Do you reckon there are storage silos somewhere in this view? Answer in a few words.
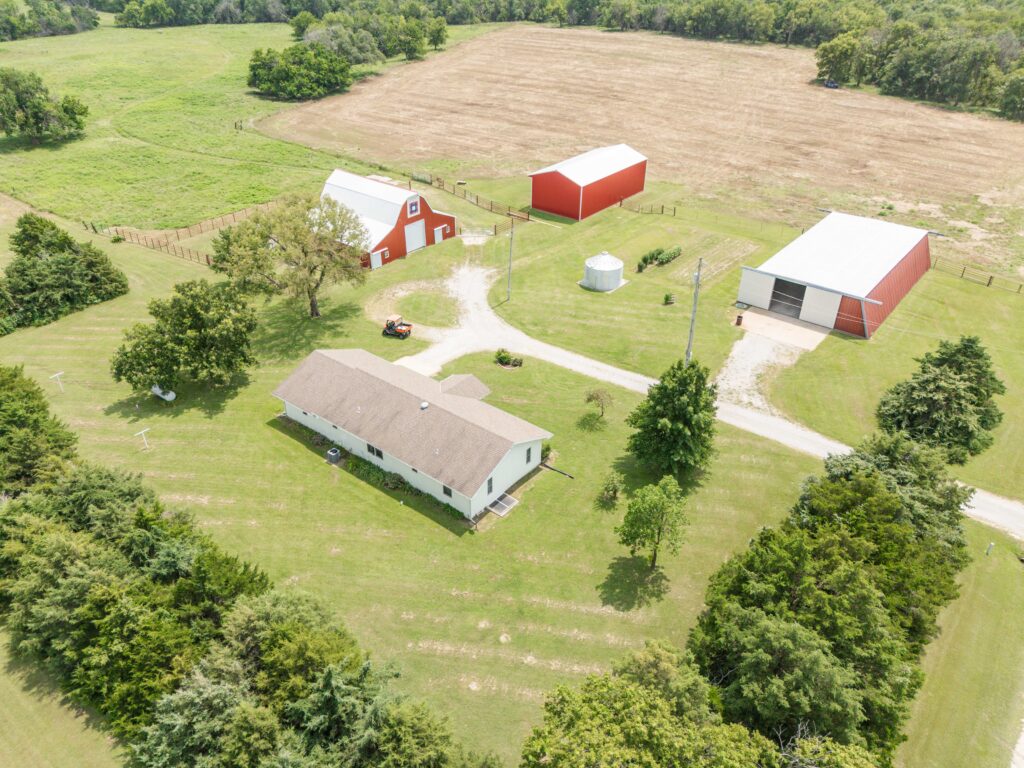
Yes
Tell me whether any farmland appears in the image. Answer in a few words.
Yes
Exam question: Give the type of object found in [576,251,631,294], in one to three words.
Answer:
silo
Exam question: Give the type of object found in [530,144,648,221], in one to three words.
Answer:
shed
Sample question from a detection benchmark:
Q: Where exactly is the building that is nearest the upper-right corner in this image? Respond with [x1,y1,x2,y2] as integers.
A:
[736,208,943,338]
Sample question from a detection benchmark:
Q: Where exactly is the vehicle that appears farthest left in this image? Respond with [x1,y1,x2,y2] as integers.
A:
[381,312,412,339]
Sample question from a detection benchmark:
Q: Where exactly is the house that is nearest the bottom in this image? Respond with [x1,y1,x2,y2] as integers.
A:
[271,349,553,522]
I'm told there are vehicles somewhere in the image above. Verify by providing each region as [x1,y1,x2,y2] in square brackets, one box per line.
[381,312,412,339]
[825,76,839,87]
